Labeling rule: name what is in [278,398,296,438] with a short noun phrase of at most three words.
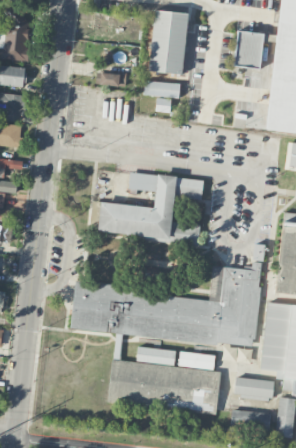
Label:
shed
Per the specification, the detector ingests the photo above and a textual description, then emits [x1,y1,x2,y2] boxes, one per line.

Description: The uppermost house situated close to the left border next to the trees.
[0,27,28,62]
